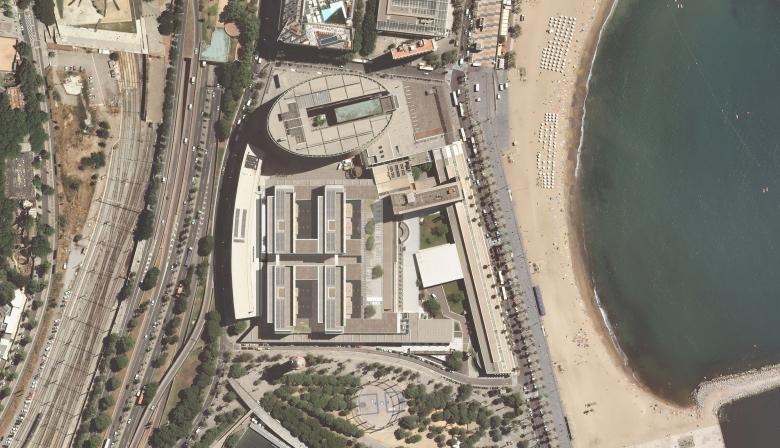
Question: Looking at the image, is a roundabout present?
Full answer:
No, I find no roundabout anywhere in the image.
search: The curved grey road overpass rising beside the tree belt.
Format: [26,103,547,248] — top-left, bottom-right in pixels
[126,236,216,448]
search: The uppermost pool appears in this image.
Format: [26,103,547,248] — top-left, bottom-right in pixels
[321,0,342,21]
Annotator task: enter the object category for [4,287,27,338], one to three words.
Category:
building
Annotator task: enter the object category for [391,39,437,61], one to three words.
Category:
building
